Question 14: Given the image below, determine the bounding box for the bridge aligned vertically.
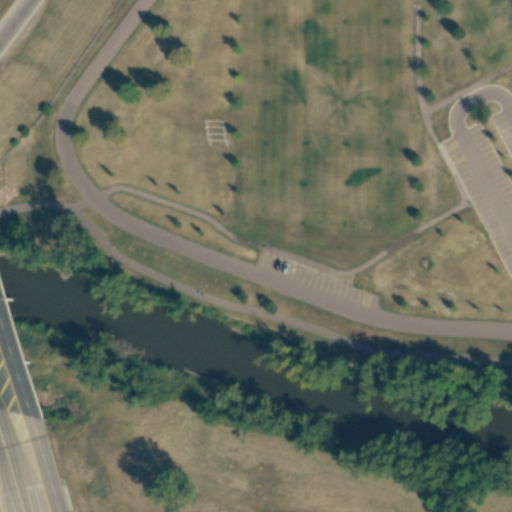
[0,279,44,420]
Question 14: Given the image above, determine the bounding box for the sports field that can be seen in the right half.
[236,0,412,228]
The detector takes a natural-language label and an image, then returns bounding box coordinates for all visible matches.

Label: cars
[284,262,289,273]
[274,259,280,270]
